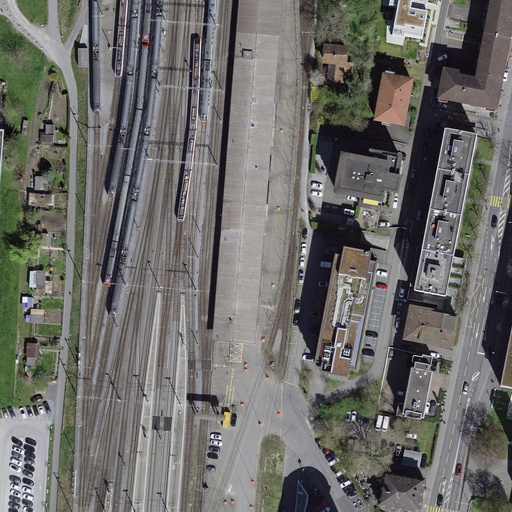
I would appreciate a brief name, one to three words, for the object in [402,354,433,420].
house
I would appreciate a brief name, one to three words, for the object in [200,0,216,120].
train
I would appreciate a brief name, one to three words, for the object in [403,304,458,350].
house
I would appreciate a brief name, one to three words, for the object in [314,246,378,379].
building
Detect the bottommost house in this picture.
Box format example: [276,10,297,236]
[378,473,425,512]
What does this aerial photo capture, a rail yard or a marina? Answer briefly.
rail yard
